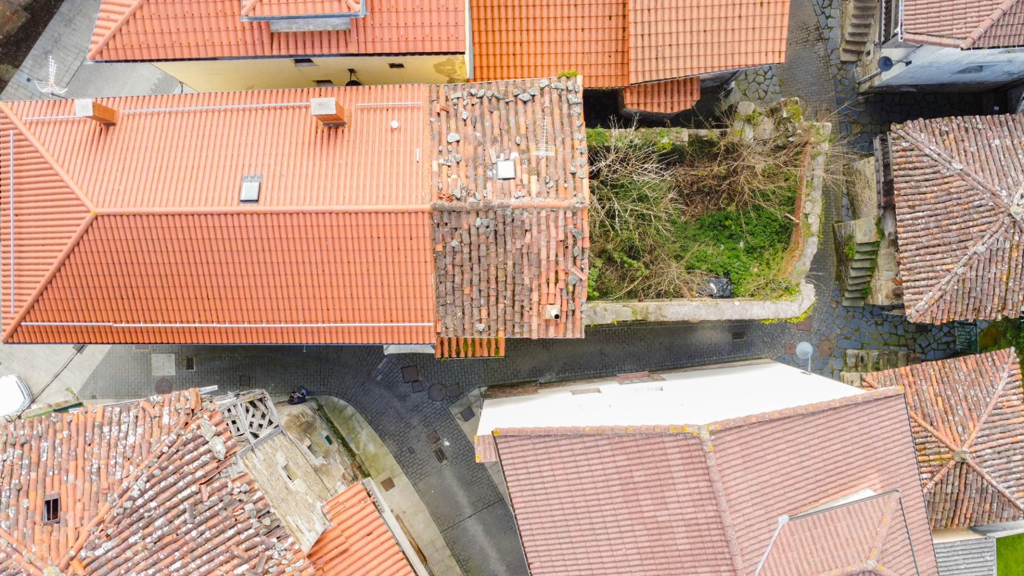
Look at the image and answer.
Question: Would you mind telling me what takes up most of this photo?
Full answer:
The bulk of the photo consists of buildings.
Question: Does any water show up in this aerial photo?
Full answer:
No, the picture contains no water.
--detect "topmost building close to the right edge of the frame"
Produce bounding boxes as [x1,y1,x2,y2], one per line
[851,0,1024,90]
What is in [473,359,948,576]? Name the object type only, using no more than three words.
house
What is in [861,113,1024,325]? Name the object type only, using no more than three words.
house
